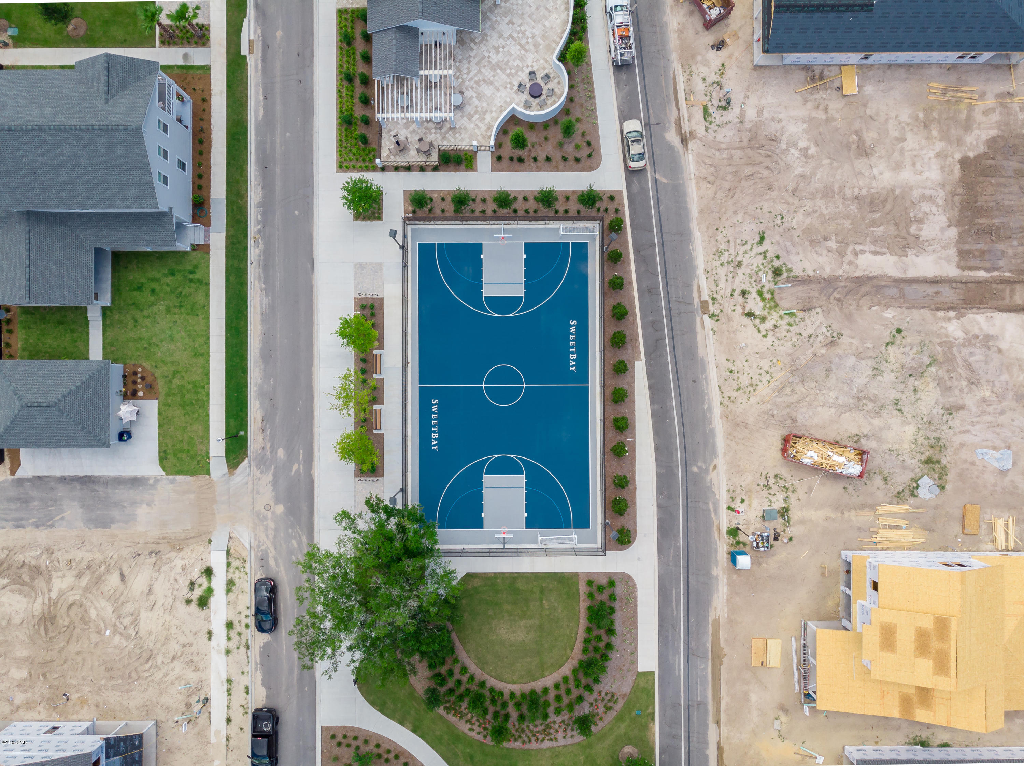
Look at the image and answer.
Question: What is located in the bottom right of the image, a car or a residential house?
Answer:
residential house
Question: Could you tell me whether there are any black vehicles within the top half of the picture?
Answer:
No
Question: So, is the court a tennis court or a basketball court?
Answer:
basketball court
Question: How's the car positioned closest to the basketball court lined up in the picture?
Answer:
vertically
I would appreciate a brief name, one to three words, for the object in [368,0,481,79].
building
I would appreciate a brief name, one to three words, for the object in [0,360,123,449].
building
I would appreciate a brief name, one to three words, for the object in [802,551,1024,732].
house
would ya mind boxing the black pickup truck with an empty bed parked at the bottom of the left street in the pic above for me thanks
[248,704,279,766]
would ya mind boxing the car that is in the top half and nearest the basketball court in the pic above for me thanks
[623,116,648,170]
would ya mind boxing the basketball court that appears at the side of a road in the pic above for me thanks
[408,224,601,549]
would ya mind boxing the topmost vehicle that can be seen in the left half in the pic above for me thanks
[250,577,277,634]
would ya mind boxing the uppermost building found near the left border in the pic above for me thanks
[0,52,204,320]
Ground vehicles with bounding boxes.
[604,0,635,66]
[250,577,277,634]
[248,704,279,766]
[623,116,648,170]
